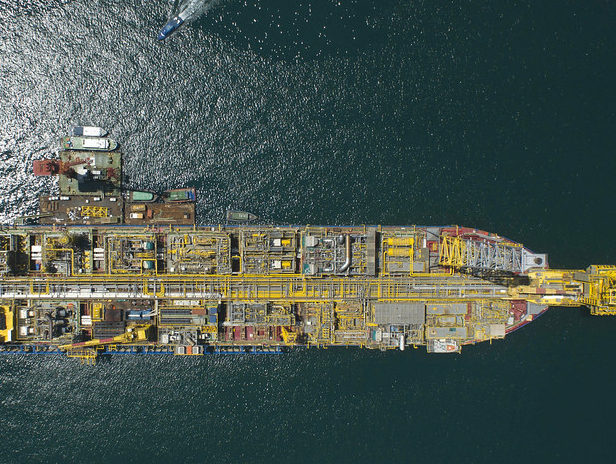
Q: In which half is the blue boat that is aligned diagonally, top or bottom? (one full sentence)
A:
The top half of the photo is where the blue boat that is aligned diagonally is.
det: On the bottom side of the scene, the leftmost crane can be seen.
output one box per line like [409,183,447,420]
[58,323,148,348]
